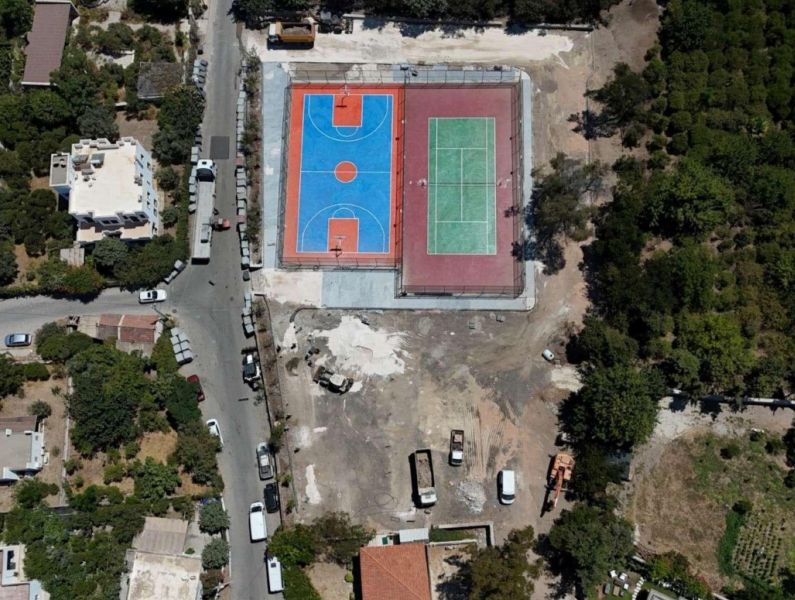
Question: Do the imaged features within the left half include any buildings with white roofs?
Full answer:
Yes, there is a building with a white roof within the left half.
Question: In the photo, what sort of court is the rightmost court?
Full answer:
The rightmost court in the image is a tennis court.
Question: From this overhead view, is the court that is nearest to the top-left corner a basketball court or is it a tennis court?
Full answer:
From above, the court that is nearest to the top-left corner can be identified as a basketball court.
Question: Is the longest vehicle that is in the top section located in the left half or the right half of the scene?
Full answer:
You can find the longest vehicle that is in the top section on the left side of the picture.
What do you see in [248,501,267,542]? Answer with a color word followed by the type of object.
white vehicle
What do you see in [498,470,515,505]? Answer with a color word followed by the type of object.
white vehicle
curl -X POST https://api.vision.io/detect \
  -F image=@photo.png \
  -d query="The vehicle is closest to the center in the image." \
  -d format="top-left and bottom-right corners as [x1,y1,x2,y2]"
[313,366,351,394]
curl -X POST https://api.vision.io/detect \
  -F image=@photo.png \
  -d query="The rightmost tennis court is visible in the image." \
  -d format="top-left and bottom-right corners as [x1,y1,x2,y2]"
[402,82,524,292]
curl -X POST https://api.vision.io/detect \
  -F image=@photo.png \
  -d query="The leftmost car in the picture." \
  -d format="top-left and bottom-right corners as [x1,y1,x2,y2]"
[5,335,33,348]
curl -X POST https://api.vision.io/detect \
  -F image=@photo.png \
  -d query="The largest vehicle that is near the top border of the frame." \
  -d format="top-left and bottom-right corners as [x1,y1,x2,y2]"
[267,23,316,45]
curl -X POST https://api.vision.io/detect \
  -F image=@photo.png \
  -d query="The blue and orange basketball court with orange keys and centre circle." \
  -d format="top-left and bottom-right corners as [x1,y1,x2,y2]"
[281,82,404,265]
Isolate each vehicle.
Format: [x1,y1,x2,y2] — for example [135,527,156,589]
[498,470,515,505]
[248,501,267,542]
[267,23,316,45]
[241,349,262,387]
[256,442,275,481]
[206,418,227,449]
[212,217,229,229]
[263,482,280,513]
[414,447,439,508]
[5,335,33,348]
[193,156,214,262]
[140,289,168,303]
[193,374,207,404]
[263,553,283,596]
[313,366,351,394]
[450,429,464,466]
[540,453,581,516]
